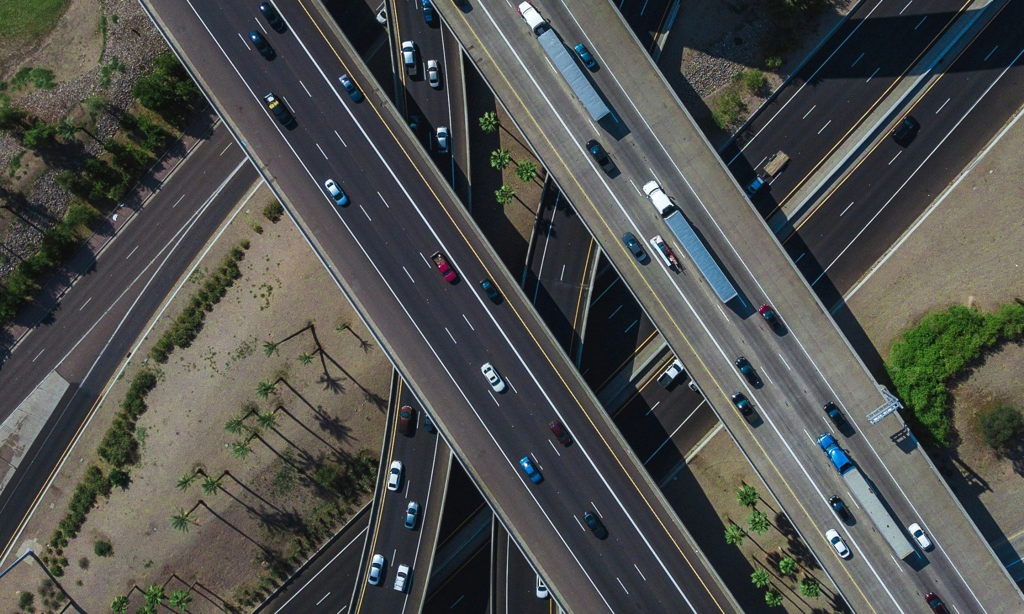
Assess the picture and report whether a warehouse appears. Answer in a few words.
No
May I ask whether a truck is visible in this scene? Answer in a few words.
Yes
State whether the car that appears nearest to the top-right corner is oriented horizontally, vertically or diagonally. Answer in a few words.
diagonally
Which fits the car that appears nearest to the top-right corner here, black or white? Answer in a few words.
black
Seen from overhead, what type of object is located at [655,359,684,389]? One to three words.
truck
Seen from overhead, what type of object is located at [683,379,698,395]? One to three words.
car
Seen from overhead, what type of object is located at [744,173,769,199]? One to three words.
truck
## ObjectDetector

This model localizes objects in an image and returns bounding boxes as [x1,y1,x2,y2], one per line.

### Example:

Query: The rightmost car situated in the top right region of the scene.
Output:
[892,118,917,143]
